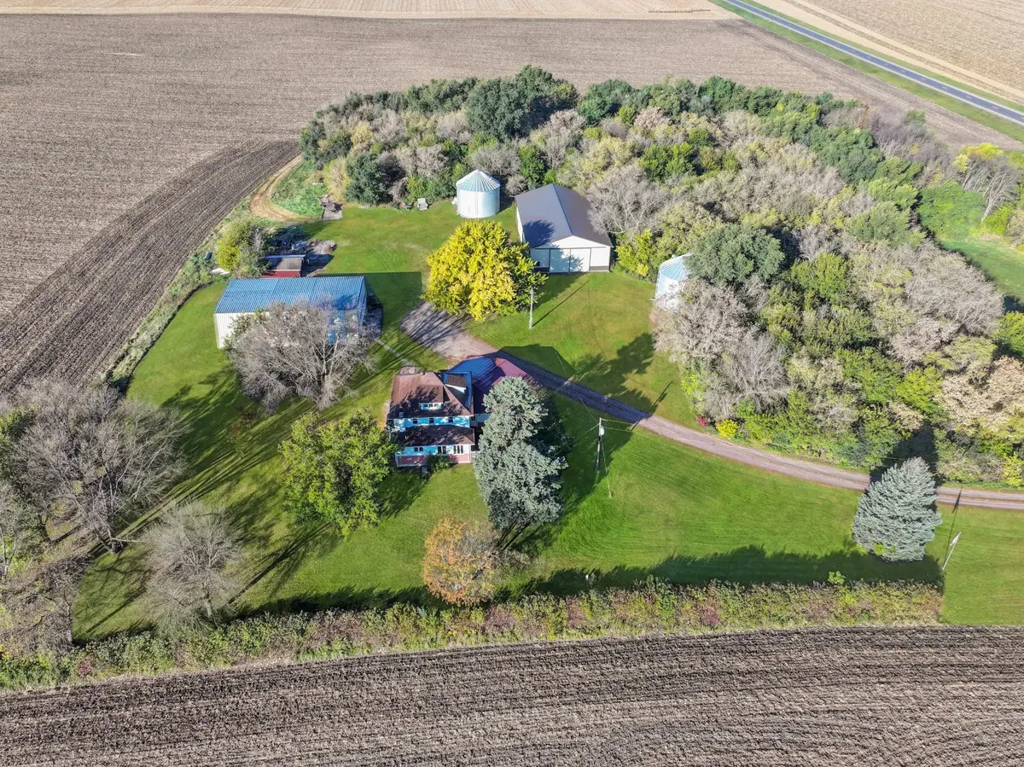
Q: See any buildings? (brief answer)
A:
Yes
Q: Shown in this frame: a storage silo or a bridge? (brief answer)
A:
storage silo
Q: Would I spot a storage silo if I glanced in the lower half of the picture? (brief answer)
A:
No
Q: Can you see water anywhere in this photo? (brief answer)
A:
No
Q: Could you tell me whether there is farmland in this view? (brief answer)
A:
Yes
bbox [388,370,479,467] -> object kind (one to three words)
house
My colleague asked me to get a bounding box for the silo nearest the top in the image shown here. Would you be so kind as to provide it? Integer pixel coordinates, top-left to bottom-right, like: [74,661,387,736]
[456,168,501,218]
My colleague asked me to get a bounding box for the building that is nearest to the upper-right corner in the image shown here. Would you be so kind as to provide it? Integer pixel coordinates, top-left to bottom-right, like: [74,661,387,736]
[517,184,614,274]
